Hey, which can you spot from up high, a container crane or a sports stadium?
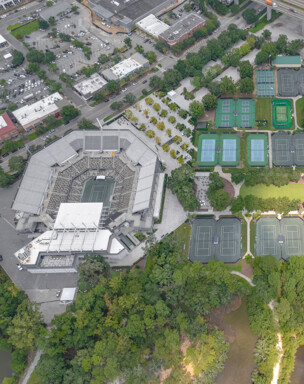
sports stadium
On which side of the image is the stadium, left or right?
left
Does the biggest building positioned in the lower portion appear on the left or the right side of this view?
left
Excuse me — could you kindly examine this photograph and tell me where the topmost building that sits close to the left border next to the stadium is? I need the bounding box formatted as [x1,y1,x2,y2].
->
[12,93,66,130]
